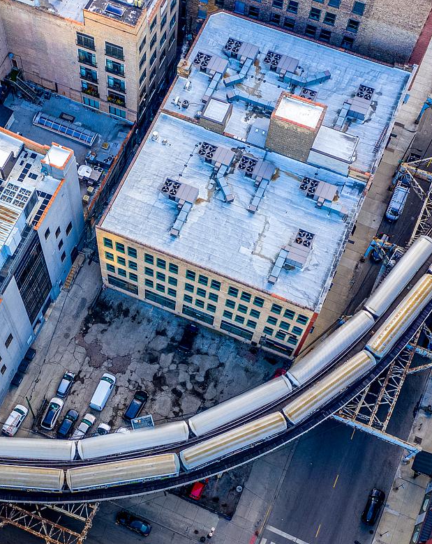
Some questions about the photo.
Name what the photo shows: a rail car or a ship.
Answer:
rail car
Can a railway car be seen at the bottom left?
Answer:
Yes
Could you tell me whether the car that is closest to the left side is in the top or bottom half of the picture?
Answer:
bottom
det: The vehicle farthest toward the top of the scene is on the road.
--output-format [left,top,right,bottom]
[385,187,407,220]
